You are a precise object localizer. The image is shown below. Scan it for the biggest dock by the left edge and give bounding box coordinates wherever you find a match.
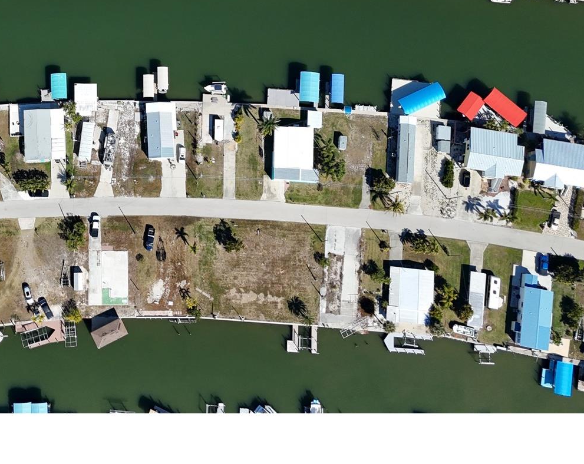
[15,320,66,350]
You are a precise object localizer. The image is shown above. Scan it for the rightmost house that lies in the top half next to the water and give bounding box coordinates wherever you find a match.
[528,138,584,197]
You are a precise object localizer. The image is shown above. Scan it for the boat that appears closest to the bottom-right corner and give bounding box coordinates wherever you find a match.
[453,325,477,337]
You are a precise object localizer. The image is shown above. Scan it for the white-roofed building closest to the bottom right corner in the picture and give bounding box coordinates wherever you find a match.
[464,271,486,328]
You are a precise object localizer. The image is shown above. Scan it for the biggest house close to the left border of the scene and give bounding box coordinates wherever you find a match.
[23,109,66,163]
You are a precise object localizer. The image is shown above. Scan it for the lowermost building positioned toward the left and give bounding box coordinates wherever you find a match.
[91,319,128,349]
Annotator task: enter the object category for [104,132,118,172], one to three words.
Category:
boat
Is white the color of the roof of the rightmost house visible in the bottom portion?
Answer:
No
